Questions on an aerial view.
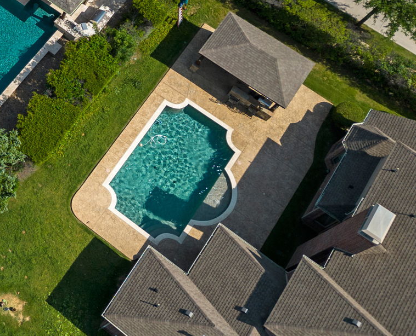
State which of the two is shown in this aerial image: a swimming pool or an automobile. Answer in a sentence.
The one in the frame is a swimming pool.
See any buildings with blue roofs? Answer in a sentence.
No, the frame has no building with a blue roof in it.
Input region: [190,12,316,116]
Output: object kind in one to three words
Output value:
building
